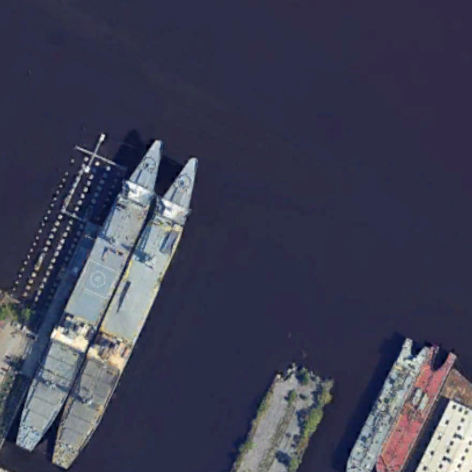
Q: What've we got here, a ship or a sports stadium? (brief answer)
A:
ship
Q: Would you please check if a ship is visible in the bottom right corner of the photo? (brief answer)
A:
Yes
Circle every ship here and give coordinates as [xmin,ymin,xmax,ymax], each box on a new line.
[52,158,197,471]
[377,345,456,472]
[347,339,431,472]
[16,141,163,452]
